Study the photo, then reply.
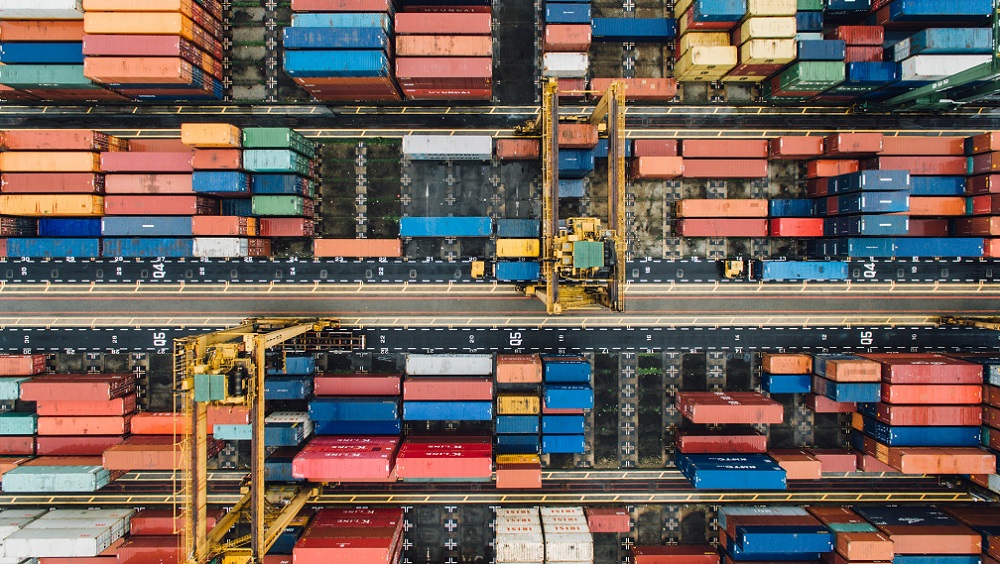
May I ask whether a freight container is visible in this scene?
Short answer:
Yes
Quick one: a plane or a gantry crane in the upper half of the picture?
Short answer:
gantry crane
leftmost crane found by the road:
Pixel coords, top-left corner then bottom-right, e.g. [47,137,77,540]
[174,315,342,564]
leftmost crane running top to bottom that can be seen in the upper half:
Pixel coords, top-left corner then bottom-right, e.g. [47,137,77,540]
[513,74,628,317]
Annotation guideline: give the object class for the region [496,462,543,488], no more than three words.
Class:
shipping container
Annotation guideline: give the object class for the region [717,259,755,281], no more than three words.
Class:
work vehicle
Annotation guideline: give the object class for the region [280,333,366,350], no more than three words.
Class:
trailer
